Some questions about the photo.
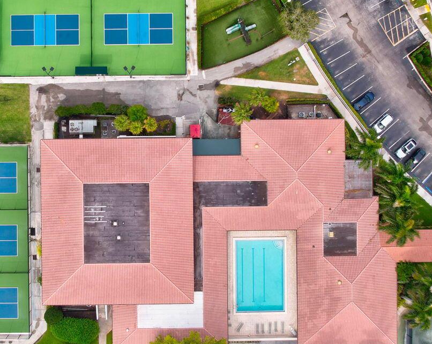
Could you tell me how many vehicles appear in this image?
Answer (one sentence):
Looking from above, you can make out 4 vehicles.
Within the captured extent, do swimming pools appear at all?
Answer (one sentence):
Yes, I can see a swimming pool in this picture.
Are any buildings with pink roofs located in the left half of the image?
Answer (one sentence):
Yes, the scene does show a building with a pink roof in the left half of the image.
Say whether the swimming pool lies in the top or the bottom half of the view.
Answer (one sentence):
You can find the swimming pool in the bottom half.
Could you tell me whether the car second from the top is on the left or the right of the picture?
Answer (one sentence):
The car second from the top appears in the right half of the scene.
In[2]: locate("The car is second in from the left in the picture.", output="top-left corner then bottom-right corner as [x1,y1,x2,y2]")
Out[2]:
[373,111,396,135]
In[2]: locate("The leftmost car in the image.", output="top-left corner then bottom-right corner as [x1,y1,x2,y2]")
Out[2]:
[353,89,377,111]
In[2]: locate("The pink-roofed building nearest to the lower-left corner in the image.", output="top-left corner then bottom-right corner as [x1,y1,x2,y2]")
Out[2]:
[40,137,194,306]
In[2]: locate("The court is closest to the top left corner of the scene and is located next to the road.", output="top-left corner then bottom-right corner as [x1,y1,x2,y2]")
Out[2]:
[0,0,91,76]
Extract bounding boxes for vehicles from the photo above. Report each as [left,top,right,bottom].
[373,111,396,135]
[406,147,430,170]
[353,89,377,111]
[394,136,419,160]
